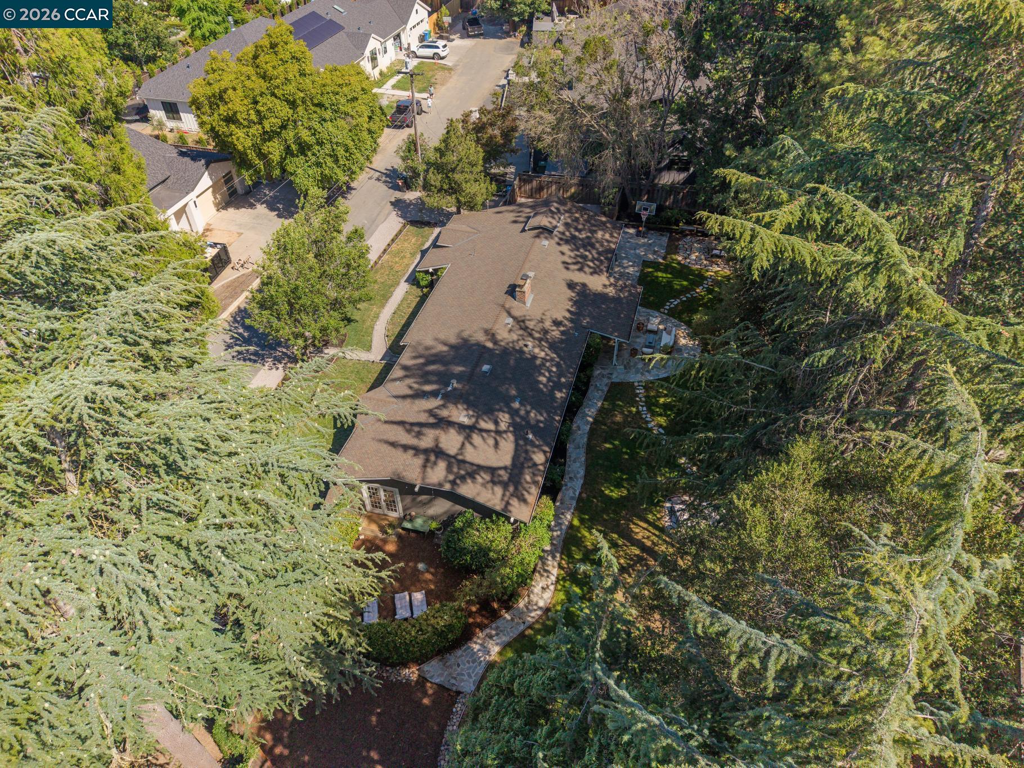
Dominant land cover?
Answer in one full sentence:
The scene is dominated by trees.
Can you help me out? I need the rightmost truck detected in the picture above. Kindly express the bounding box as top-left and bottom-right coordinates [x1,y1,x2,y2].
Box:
[463,11,484,32]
